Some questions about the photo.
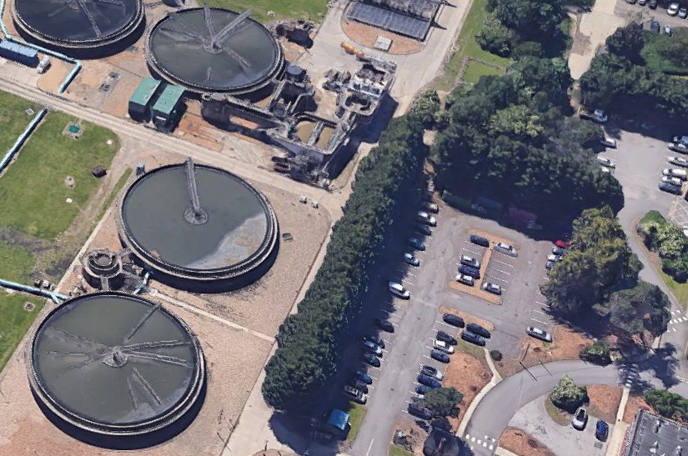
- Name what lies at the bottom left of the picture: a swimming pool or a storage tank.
storage tank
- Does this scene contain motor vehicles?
Yes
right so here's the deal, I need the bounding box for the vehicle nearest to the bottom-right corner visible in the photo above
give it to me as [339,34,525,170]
[595,419,609,442]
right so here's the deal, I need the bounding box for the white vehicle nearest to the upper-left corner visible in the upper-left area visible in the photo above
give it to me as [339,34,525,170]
[38,53,52,73]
